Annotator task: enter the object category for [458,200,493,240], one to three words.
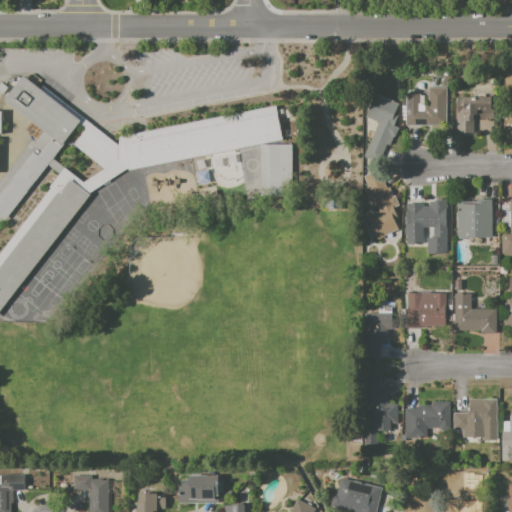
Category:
house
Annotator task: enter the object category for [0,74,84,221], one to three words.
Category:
building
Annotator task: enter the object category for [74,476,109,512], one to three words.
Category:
house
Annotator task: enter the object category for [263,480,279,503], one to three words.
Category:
swimming pool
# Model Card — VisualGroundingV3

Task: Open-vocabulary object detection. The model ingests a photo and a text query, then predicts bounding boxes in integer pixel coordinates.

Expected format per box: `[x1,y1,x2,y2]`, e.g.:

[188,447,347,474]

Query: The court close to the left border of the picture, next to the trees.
[0,158,195,321]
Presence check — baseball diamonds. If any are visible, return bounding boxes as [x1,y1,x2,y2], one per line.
[127,232,208,308]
